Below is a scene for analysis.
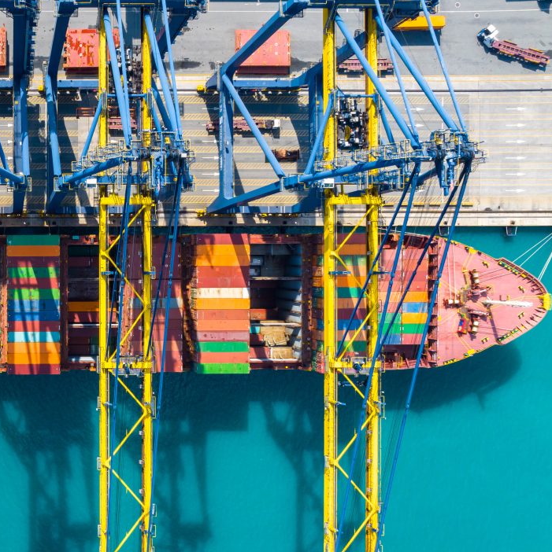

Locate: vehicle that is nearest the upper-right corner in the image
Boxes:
[481,26,550,65]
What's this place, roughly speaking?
port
